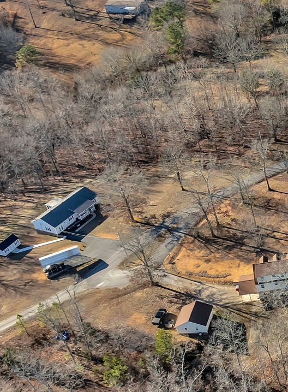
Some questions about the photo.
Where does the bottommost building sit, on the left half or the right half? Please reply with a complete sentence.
It is on the right.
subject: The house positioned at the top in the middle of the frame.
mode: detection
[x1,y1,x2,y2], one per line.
[104,2,146,17]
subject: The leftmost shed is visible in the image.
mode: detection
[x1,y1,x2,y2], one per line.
[0,233,24,256]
